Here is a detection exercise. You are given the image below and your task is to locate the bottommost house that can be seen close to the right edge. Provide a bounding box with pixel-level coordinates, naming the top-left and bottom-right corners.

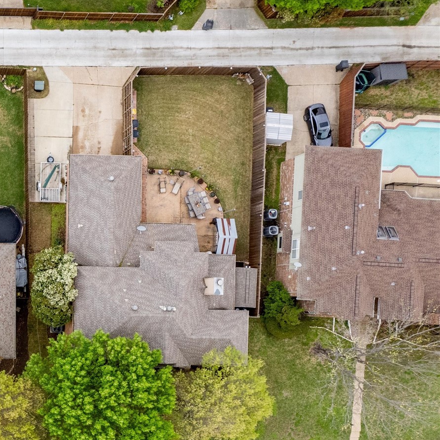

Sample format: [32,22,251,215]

[268,145,440,328]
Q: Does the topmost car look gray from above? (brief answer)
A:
Yes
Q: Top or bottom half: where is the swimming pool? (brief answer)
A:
top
